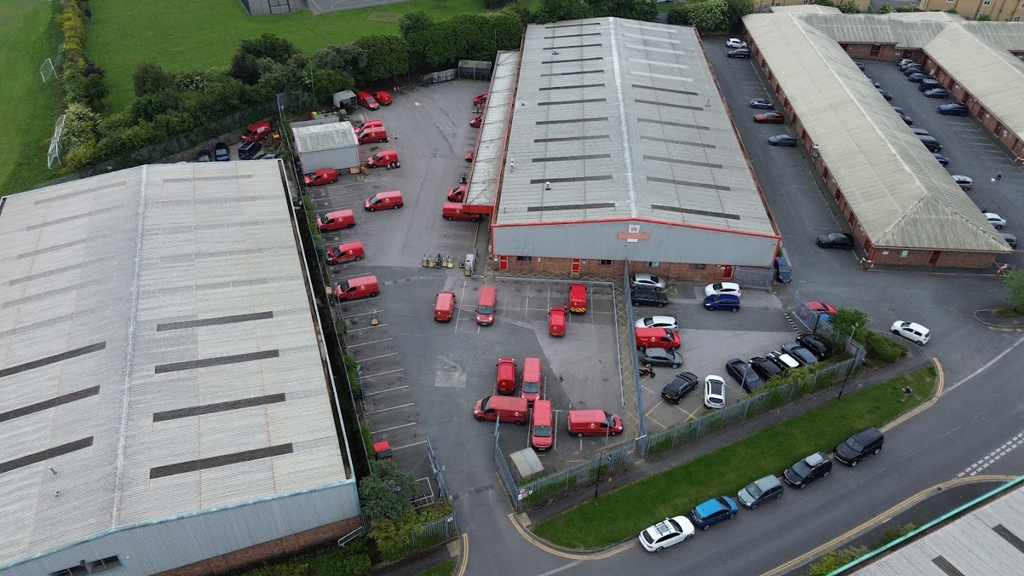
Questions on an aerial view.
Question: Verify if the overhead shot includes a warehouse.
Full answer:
Yes, there's a warehouse here.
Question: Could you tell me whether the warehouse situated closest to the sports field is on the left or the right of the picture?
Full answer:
The warehouse situated closest to the sports field sits on the left side.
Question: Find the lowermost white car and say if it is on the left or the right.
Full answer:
You can find the lowermost white car on the right side of the picture.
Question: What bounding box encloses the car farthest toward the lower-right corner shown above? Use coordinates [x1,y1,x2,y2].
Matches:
[833,426,887,465]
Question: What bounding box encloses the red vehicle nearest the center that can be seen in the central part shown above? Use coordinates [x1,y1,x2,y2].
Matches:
[476,284,496,322]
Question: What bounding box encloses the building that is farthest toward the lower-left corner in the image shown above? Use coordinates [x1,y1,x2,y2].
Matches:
[0,157,365,576]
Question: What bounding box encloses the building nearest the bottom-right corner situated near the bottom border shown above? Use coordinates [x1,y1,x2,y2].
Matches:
[824,475,1024,576]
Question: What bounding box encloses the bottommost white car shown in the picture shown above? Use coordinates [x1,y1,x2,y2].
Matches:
[638,518,695,554]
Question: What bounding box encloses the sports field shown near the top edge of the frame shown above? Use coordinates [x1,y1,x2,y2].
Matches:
[0,0,86,193]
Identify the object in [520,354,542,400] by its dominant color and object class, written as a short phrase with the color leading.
red vehicle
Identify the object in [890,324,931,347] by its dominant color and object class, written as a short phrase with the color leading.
white car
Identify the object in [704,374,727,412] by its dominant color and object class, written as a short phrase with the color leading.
white car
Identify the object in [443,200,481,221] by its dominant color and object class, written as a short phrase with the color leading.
red vehicle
